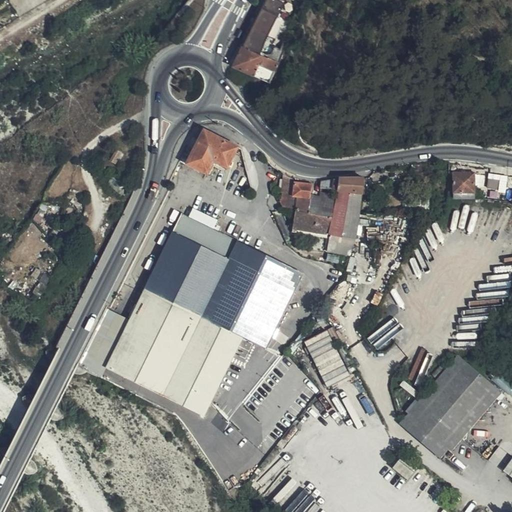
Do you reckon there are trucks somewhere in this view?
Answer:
Yes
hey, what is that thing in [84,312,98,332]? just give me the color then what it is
white vehicle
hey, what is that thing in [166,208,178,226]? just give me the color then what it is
white vehicle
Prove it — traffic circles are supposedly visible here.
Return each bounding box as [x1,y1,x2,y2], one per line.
[150,48,224,121]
